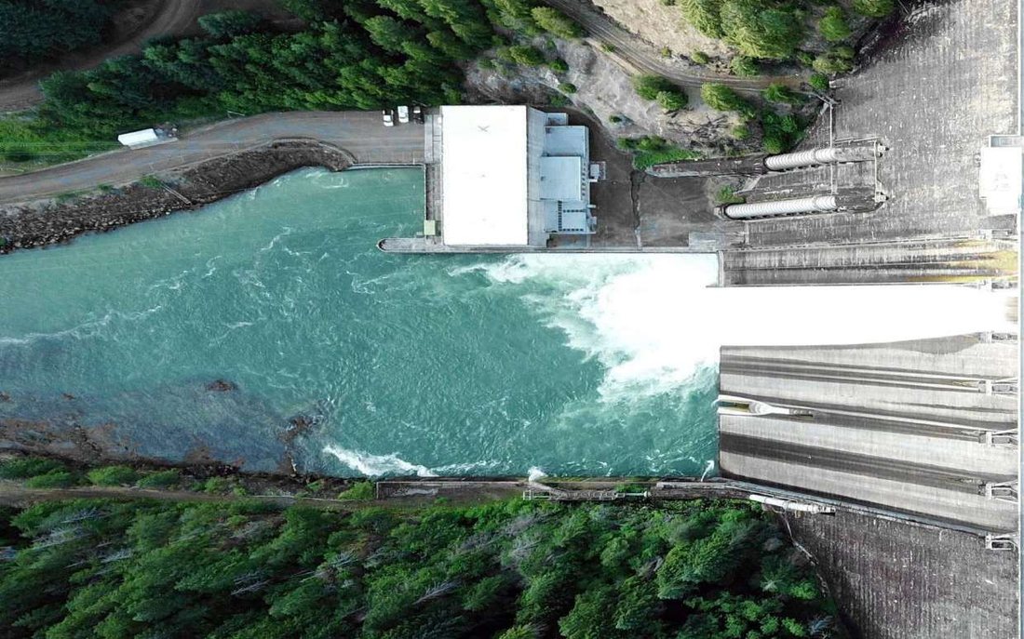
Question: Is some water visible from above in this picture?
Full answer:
Yes, some water is visible.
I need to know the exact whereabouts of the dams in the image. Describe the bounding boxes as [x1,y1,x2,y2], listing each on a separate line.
[704,0,1024,639]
